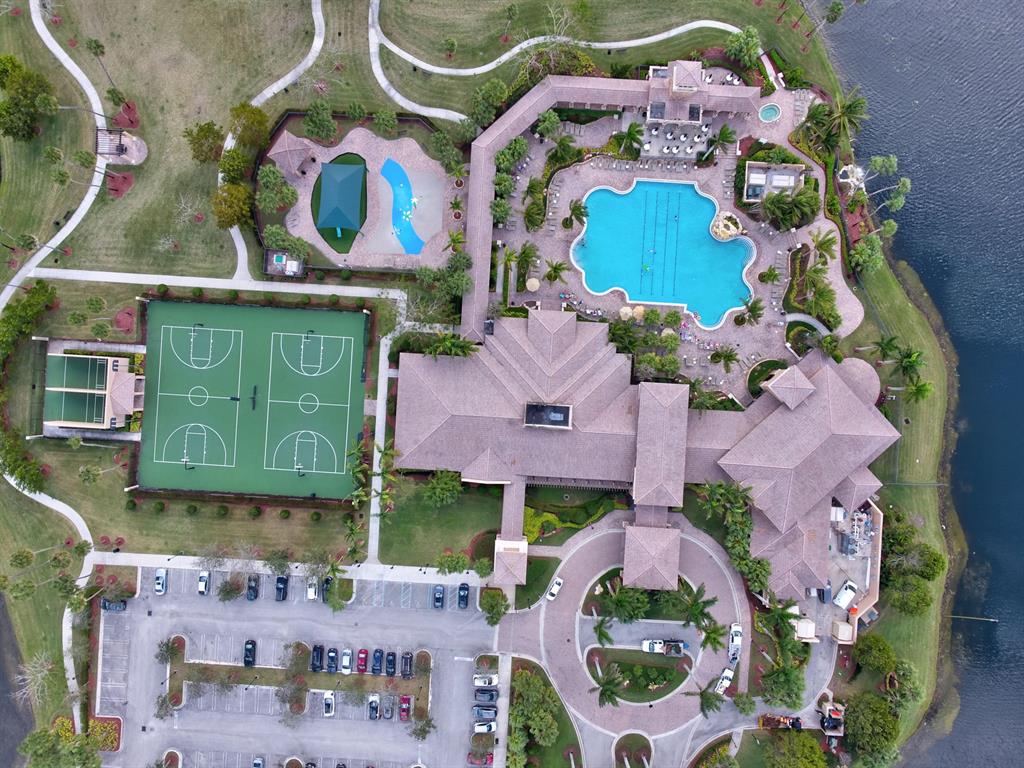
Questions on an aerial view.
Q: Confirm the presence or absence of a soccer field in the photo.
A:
No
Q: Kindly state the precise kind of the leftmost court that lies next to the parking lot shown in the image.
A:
basketball court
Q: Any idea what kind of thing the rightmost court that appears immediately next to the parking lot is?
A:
basketball court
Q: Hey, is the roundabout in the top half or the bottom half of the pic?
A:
bottom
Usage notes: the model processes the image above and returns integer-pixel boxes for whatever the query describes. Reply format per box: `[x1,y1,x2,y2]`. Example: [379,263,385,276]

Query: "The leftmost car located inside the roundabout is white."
[547,576,564,603]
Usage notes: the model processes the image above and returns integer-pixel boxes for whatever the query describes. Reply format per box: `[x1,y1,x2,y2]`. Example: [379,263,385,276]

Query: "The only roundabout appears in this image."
[497,533,793,768]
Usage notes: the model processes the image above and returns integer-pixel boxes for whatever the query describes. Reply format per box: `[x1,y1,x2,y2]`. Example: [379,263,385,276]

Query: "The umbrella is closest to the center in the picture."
[526,278,540,292]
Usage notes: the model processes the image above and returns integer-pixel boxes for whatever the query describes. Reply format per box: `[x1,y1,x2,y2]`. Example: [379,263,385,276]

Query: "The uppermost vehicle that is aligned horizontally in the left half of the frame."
[100,600,126,613]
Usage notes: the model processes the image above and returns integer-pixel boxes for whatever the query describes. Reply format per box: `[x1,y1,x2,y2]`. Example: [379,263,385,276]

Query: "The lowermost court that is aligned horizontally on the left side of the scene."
[43,391,106,424]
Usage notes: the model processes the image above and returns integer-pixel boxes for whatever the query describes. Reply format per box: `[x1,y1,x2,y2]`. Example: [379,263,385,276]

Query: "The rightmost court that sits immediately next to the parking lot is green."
[247,307,365,501]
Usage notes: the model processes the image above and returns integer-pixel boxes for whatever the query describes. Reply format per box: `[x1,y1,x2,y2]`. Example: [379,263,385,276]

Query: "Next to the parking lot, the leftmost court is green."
[139,301,256,495]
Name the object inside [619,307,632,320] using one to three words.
umbrella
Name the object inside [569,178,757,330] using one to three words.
swimming pool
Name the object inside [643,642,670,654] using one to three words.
vehicle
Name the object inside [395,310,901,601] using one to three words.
building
